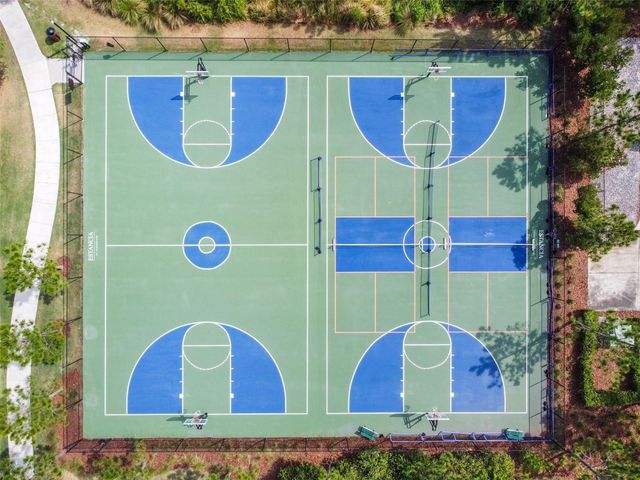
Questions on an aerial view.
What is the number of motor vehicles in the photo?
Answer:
zero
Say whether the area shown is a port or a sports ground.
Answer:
sports ground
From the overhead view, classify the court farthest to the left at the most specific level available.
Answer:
basketball court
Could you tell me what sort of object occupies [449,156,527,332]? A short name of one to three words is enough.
sports court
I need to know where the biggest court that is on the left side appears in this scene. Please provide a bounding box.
[88,75,308,415]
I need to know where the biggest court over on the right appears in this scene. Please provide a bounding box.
[327,76,544,414]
